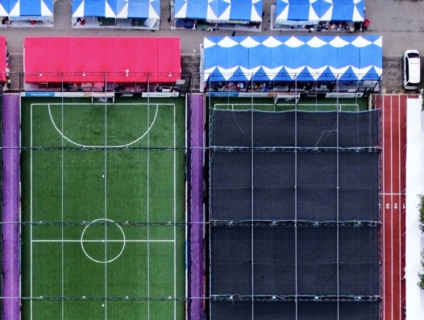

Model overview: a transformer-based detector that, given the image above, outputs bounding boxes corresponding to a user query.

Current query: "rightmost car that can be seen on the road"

[403,53,422,89]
